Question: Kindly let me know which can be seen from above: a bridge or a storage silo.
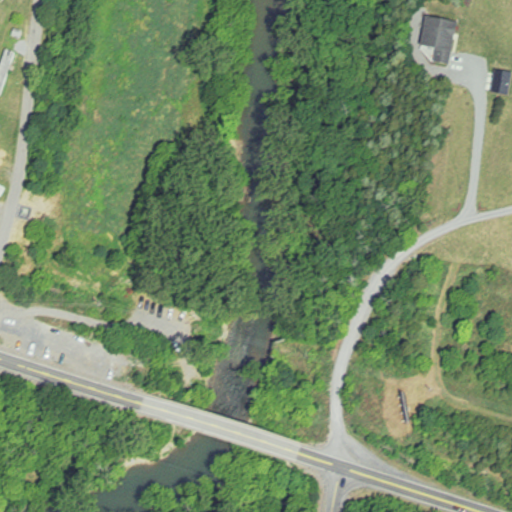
bridge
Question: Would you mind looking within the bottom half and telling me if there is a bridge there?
Yes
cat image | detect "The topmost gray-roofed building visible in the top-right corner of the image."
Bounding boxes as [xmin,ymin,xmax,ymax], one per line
[419,14,456,66]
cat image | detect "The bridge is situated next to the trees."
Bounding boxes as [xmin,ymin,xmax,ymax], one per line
[140,394,303,464]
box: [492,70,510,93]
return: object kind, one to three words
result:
building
